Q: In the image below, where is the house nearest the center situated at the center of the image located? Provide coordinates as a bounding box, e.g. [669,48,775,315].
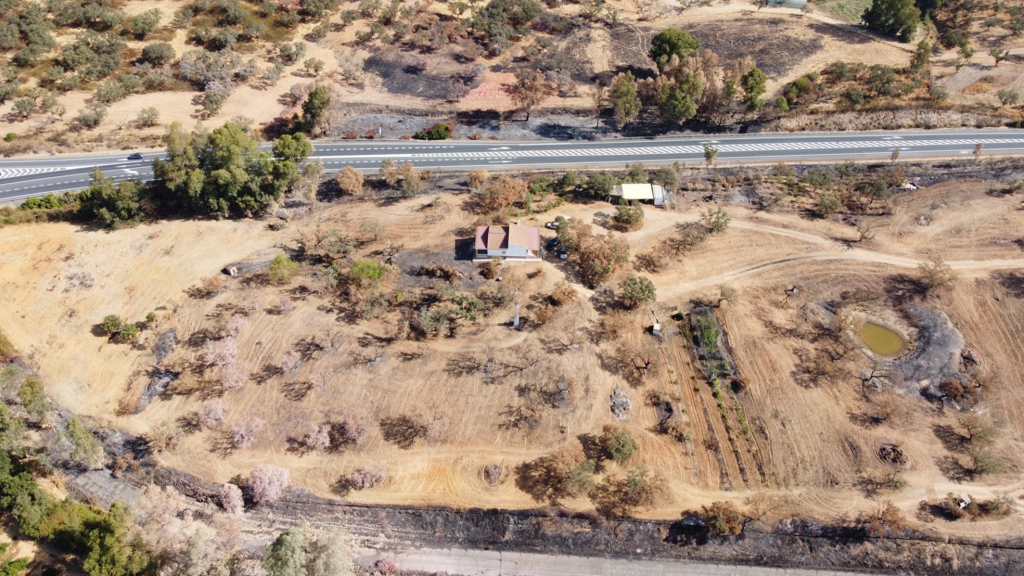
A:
[474,217,542,260]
